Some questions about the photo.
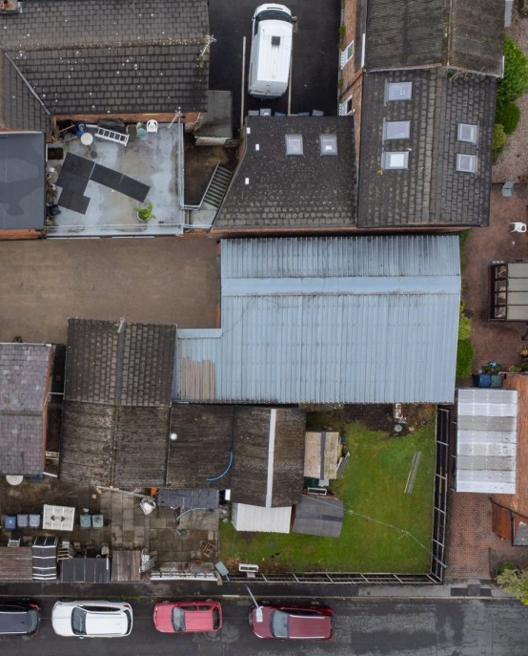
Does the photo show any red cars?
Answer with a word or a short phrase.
Yes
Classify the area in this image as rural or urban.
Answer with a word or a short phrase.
urban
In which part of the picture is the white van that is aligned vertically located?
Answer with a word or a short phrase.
top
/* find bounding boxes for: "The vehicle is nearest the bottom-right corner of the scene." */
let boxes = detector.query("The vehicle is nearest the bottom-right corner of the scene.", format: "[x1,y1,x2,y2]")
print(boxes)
[249,599,332,640]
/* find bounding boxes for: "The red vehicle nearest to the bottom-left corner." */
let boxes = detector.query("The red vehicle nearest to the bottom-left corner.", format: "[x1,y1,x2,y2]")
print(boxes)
[154,598,221,634]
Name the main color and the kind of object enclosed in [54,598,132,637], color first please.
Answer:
white car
